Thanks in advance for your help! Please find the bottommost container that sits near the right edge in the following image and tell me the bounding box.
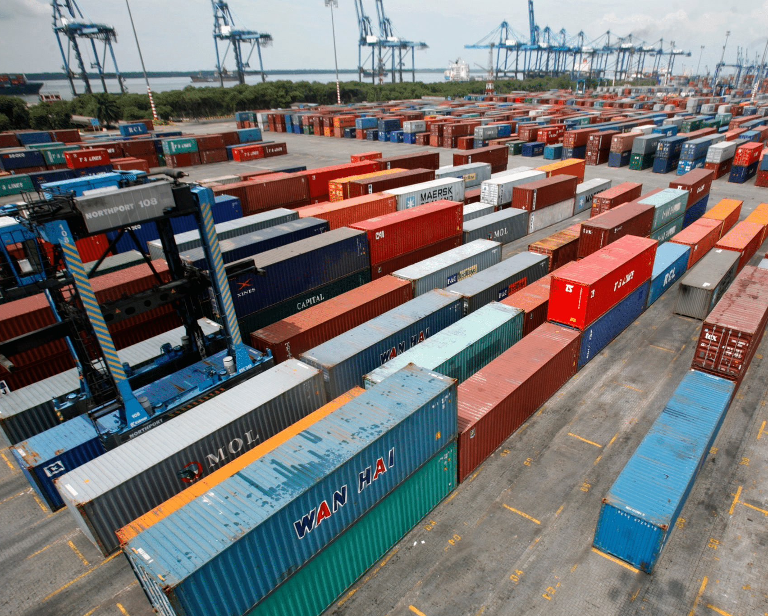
[592,372,736,574]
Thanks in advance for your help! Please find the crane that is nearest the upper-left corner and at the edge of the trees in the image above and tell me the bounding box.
[53,0,130,99]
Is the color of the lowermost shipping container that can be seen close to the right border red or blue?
blue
